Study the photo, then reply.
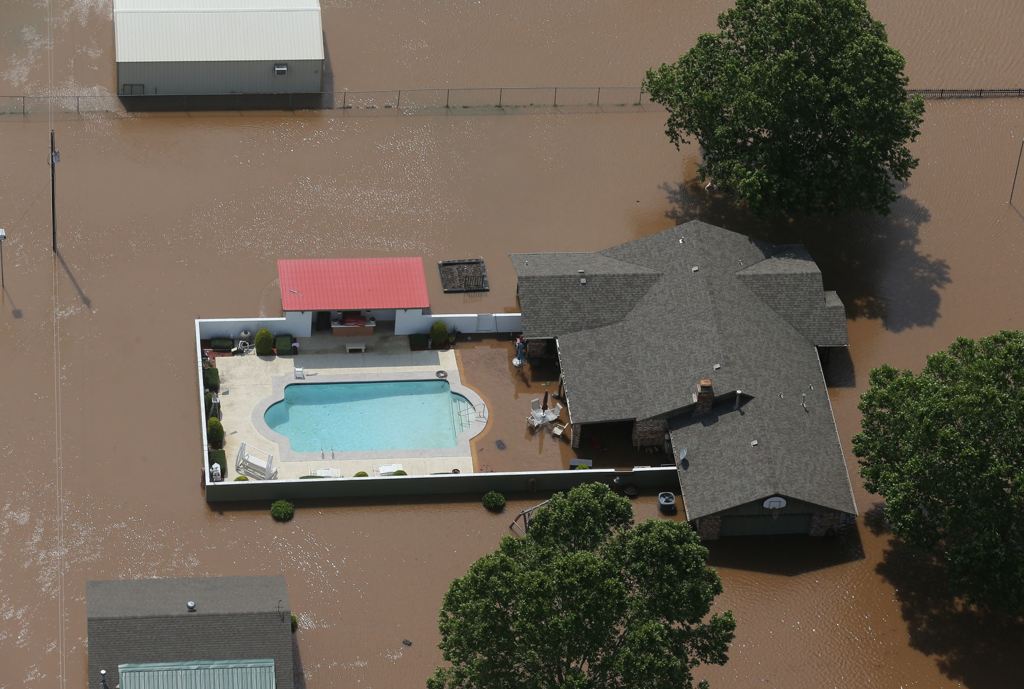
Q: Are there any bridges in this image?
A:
No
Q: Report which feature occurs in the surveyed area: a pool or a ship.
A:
pool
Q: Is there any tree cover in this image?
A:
Yes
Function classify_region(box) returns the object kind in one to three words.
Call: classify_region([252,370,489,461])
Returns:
swimming pool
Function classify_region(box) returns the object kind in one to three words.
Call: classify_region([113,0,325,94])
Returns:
barn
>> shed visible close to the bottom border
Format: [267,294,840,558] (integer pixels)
[87,575,294,689]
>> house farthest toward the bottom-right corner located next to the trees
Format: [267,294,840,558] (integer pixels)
[509,221,859,540]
